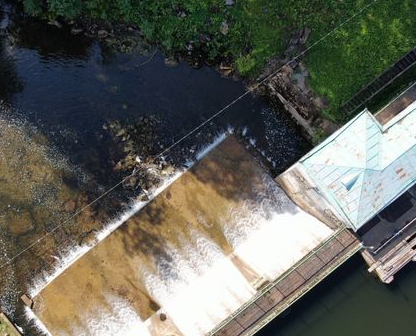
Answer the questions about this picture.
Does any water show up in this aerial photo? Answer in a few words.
Yes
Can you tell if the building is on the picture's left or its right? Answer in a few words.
right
